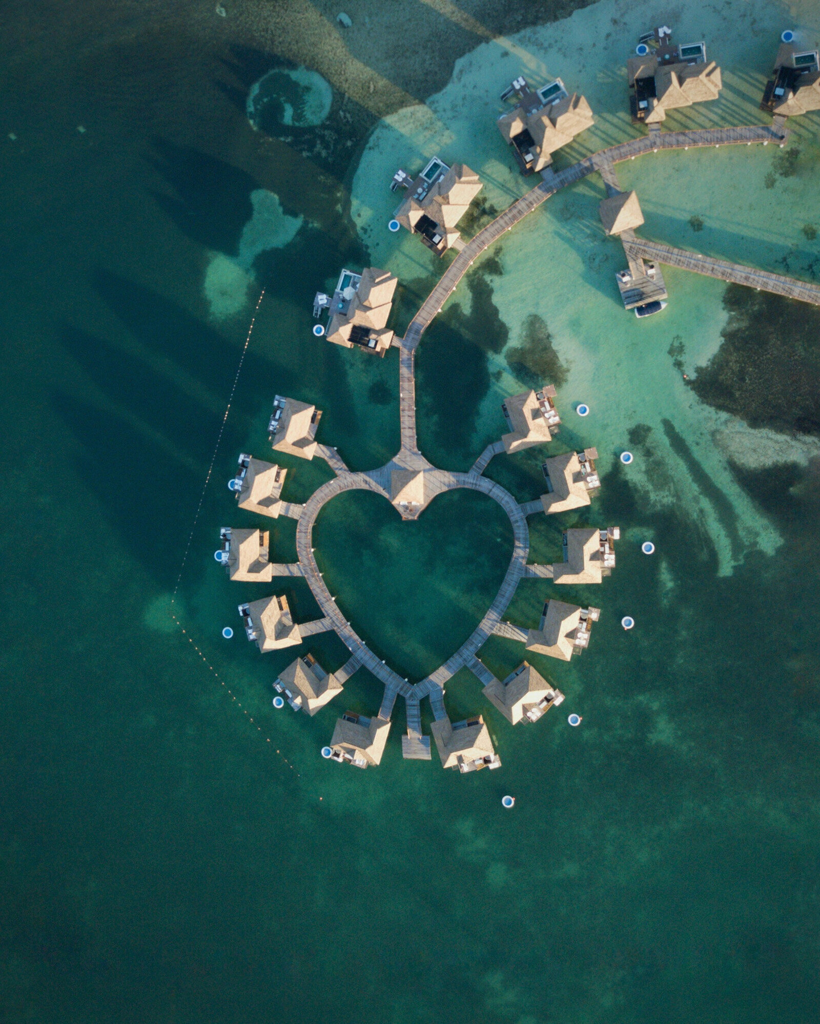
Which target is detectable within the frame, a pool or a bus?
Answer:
pool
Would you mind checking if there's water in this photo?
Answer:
Yes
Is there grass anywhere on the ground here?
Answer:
No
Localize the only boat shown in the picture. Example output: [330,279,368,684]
[634,300,670,318]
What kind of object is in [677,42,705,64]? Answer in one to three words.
swimming pool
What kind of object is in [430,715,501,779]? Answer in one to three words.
house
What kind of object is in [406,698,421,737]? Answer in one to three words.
pier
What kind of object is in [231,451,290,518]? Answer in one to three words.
house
